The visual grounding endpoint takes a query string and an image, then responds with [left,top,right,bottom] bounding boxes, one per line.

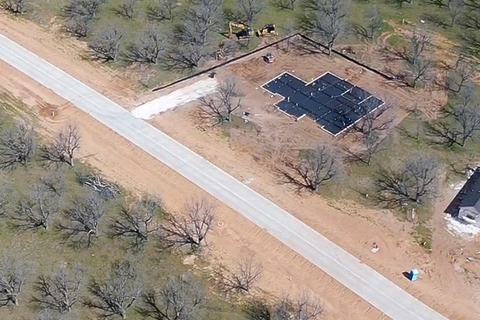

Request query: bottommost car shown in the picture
[263,50,276,62]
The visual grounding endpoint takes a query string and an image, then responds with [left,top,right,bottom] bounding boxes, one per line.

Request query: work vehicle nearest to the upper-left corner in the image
[223,21,255,39]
